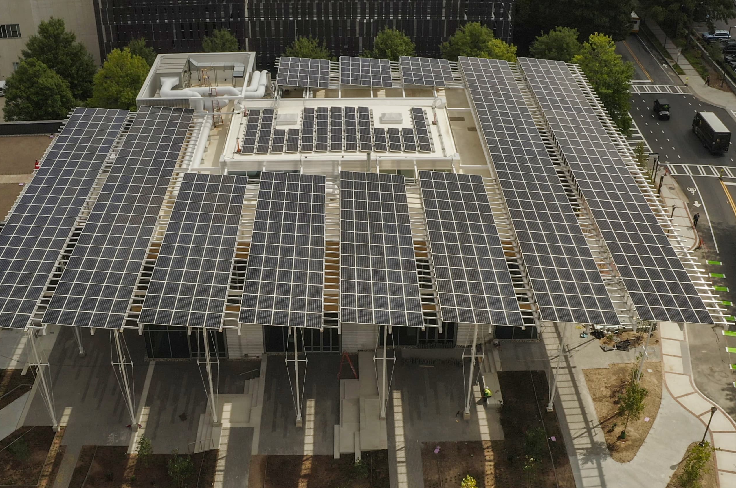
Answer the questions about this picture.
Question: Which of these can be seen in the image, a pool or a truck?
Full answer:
Looking from above, you can make out a truck.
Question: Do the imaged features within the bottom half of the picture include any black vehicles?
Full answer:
No, no black vehicle can be made out within the bottom half of the picture.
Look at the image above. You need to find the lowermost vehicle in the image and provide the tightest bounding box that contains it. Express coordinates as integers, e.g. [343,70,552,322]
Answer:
[696,115,735,152]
